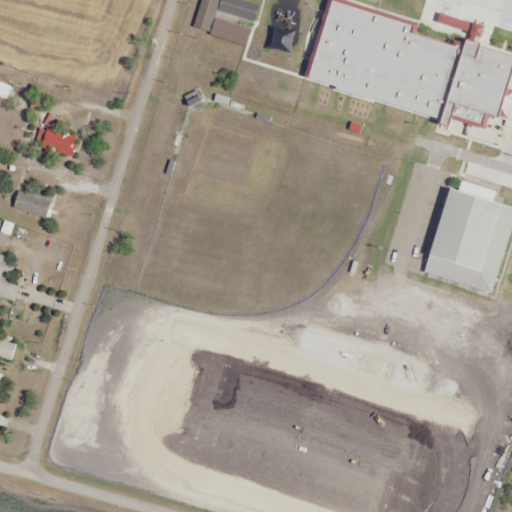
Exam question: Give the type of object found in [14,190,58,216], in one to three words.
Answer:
house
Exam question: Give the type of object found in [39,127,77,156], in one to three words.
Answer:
house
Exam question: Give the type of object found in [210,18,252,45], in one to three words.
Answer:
shed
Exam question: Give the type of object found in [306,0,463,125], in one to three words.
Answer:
building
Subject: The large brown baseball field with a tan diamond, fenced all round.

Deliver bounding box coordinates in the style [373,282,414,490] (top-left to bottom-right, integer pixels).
[138,104,388,316]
